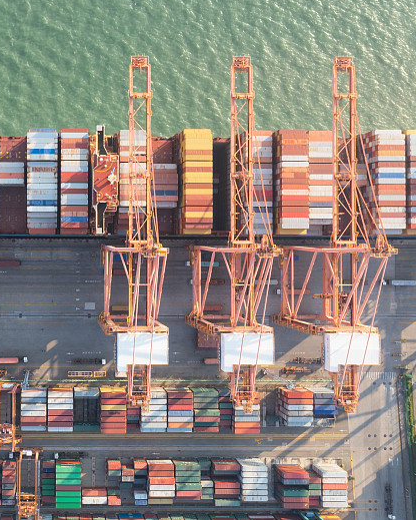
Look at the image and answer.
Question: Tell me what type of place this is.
port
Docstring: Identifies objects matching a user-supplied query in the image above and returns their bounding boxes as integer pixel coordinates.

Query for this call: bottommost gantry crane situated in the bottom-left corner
[16,448,45,520]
